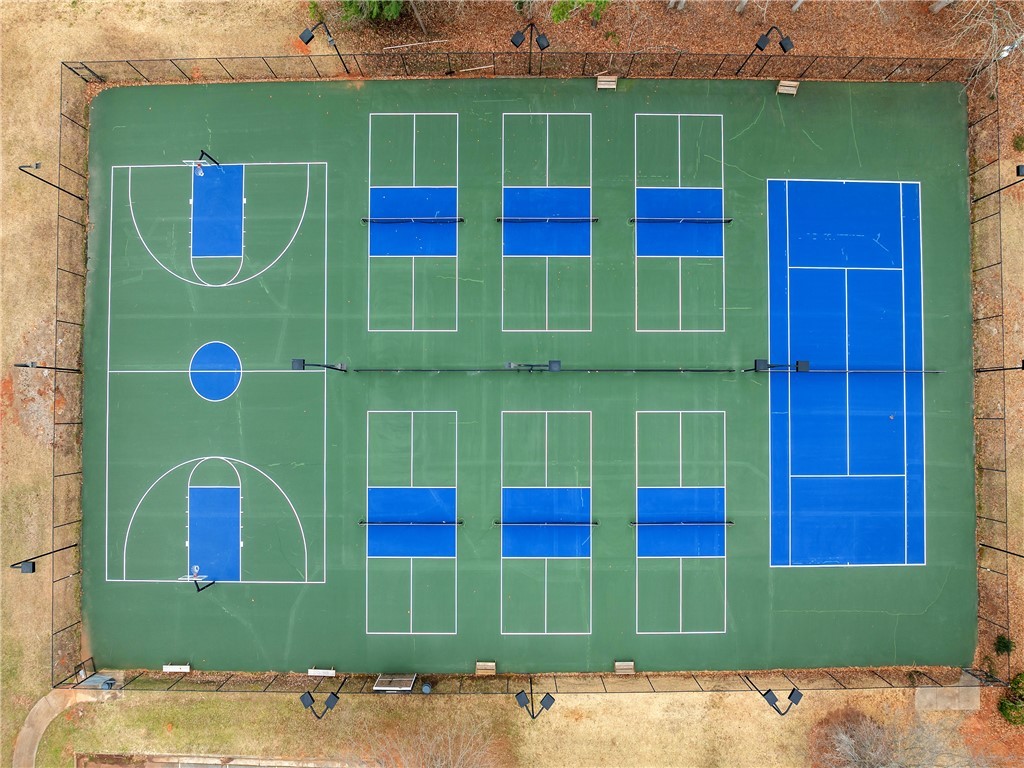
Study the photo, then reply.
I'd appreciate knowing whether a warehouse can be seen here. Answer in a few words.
No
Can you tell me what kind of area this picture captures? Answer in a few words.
sports ground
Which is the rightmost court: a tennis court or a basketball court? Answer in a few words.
tennis court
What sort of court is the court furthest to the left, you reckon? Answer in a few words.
basketball court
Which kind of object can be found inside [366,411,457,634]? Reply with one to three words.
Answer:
sports court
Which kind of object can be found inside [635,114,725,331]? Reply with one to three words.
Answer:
sports court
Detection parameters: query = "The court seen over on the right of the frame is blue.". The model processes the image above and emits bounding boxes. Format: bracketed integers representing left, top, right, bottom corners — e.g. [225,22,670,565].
[767,179,926,568]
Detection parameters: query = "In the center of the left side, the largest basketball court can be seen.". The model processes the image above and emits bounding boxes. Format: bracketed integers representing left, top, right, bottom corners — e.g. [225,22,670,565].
[105,162,328,583]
